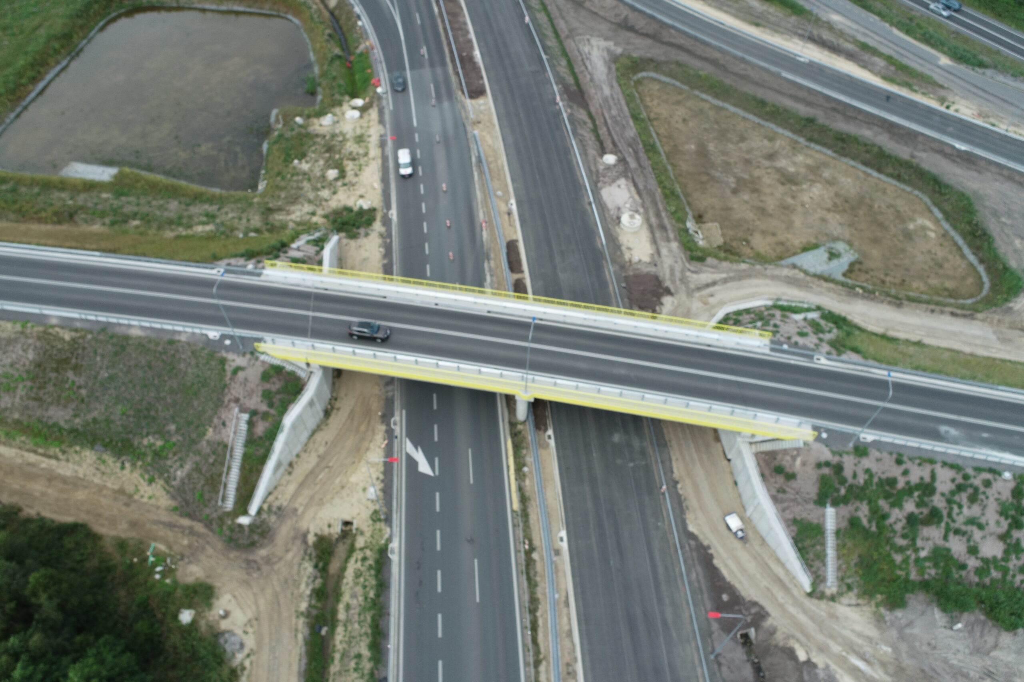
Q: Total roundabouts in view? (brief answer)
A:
zero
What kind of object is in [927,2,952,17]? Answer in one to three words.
car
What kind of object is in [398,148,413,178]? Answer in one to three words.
vehicle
